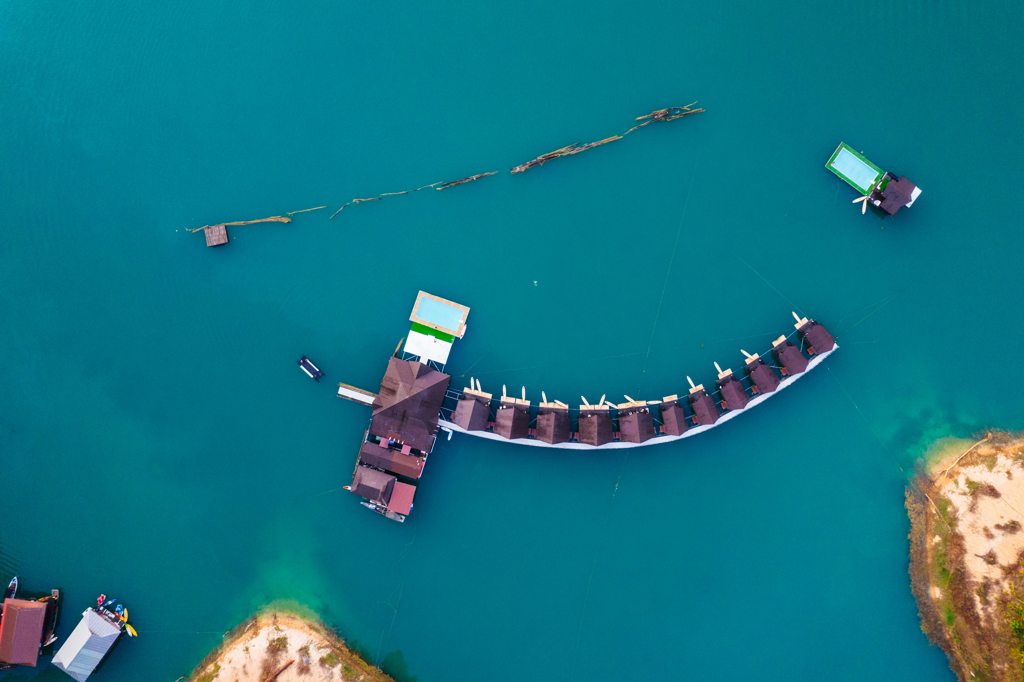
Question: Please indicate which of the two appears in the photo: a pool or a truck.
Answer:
pool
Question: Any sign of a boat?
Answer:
Yes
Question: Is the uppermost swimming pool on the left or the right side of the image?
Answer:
right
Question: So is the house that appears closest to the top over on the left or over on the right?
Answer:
right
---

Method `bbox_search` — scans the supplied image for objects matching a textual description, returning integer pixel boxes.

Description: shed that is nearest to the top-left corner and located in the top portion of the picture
[204,225,229,246]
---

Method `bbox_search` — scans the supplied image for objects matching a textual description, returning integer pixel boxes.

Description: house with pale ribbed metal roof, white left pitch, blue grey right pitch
[51,605,127,682]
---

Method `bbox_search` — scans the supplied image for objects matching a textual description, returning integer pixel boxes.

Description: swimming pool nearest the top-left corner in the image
[409,290,470,338]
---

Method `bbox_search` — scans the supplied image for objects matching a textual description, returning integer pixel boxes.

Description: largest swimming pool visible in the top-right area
[824,142,885,196]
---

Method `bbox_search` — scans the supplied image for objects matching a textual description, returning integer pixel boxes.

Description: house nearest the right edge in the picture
[866,172,921,216]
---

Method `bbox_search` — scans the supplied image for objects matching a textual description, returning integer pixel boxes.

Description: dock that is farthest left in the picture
[338,385,377,404]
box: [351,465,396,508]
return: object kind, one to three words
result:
house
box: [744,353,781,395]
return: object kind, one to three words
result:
building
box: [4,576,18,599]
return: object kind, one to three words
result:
boat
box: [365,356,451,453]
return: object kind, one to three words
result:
building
